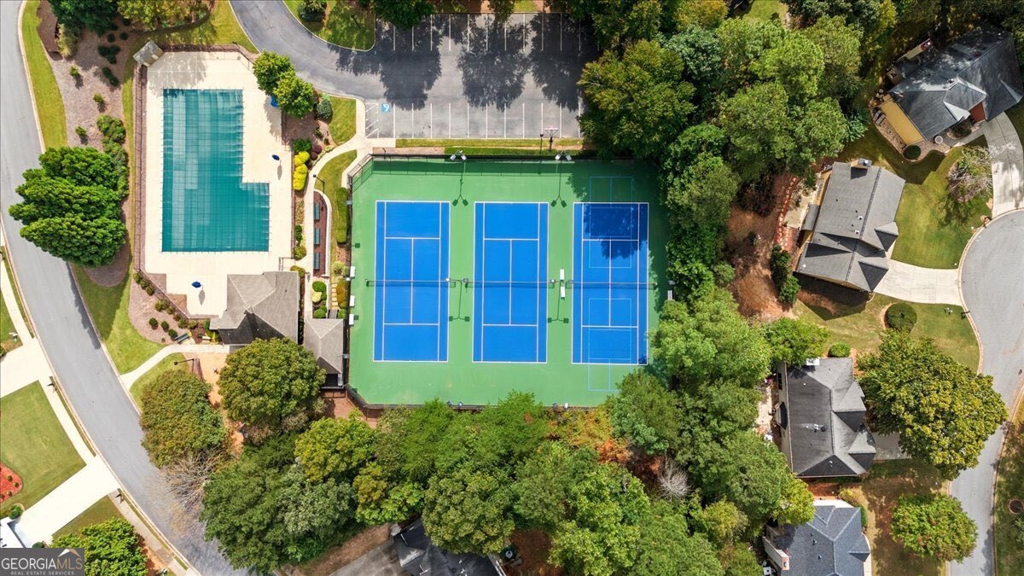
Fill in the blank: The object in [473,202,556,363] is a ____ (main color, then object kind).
blue tennis court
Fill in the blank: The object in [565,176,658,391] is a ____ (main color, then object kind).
blue tennis court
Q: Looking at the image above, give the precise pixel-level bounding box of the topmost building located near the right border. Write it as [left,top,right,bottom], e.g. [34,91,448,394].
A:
[865,16,1024,151]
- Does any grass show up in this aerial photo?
Yes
